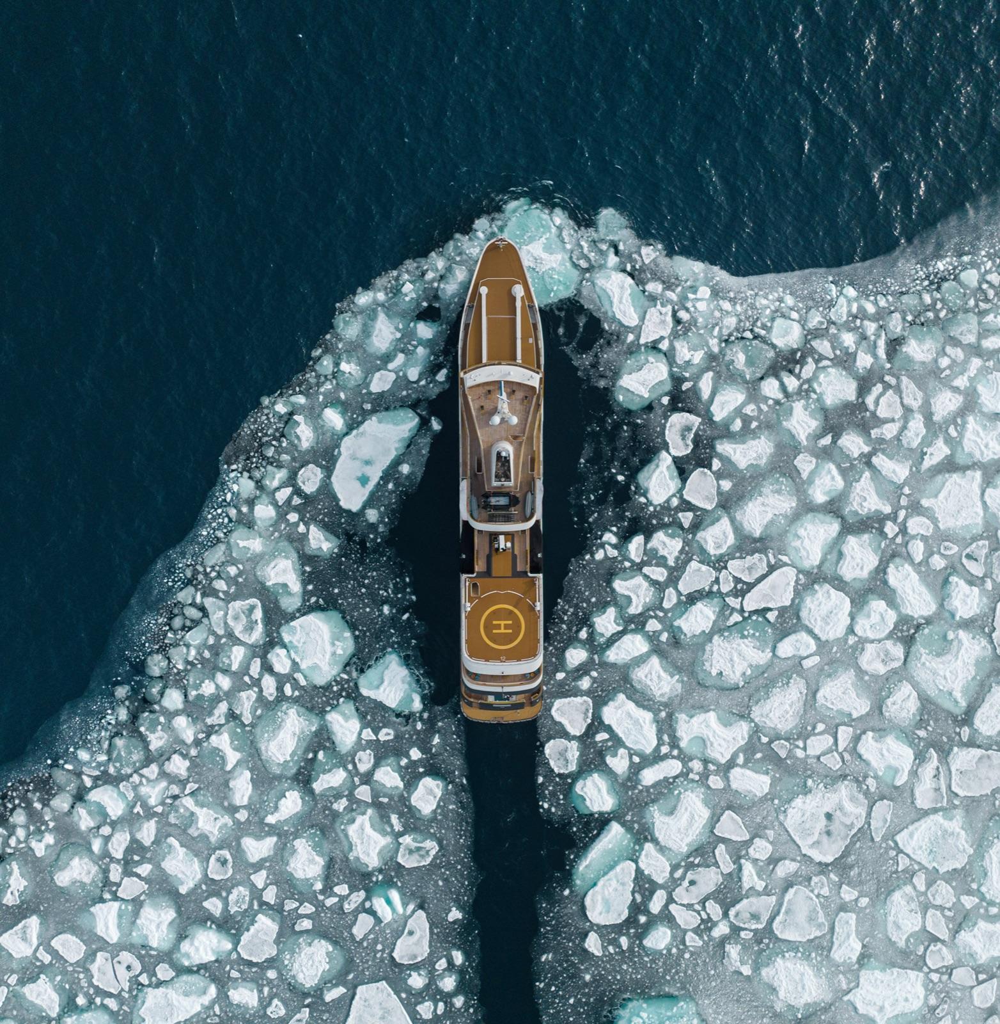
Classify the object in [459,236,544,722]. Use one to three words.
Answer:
boat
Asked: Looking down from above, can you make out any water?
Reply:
Yes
